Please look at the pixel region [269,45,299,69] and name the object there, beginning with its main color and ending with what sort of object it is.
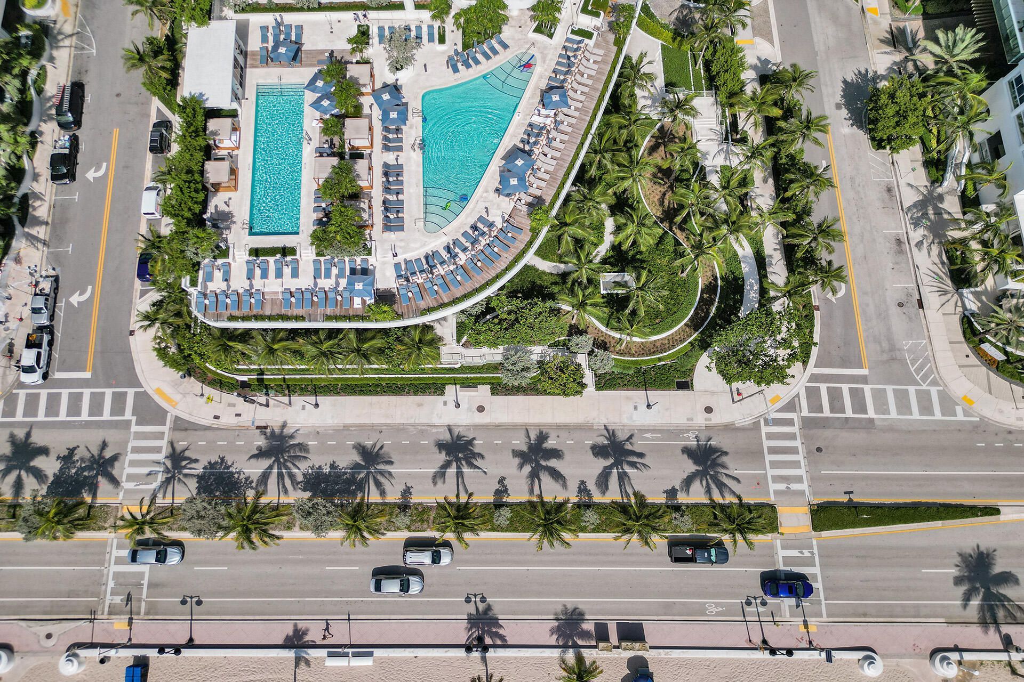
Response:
blue umbrella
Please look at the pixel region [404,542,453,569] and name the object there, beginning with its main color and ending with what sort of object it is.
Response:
white car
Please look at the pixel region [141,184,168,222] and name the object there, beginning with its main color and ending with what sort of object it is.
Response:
white car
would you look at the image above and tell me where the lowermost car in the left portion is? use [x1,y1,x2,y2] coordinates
[371,572,424,598]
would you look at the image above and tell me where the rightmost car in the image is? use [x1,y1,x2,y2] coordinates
[761,576,811,601]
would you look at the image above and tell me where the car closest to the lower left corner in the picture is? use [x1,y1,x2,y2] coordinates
[128,542,185,569]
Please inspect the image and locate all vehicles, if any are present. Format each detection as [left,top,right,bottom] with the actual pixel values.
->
[761,576,811,601]
[52,82,84,132]
[150,122,172,157]
[23,328,57,385]
[128,542,185,569]
[135,251,157,287]
[141,184,168,222]
[50,137,81,188]
[666,541,727,568]
[371,572,424,598]
[404,542,453,569]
